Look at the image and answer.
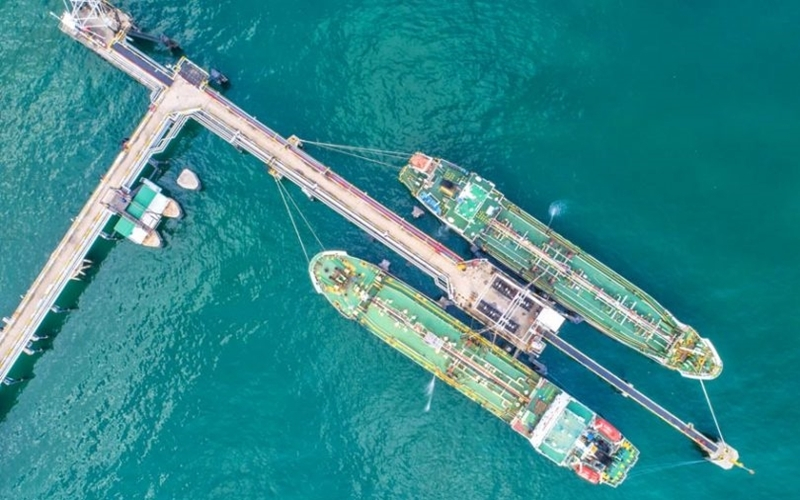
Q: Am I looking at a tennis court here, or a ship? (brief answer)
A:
ship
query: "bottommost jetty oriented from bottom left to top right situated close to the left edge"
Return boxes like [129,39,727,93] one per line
[0,116,175,384]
